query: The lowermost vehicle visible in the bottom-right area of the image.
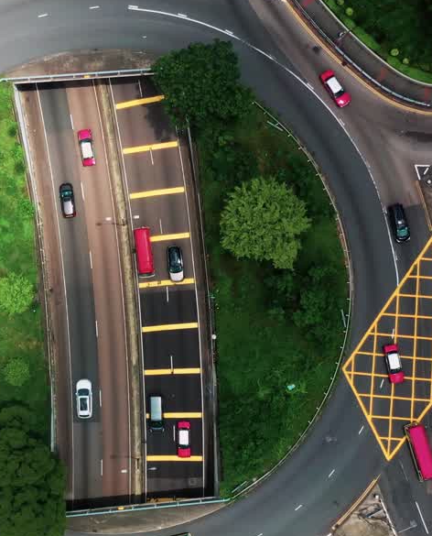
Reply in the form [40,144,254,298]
[401,420,432,482]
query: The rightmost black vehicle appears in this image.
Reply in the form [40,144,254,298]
[387,202,410,243]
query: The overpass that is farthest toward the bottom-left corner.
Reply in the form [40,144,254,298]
[49,492,236,526]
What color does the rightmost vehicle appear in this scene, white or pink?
pink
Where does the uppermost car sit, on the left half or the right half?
right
